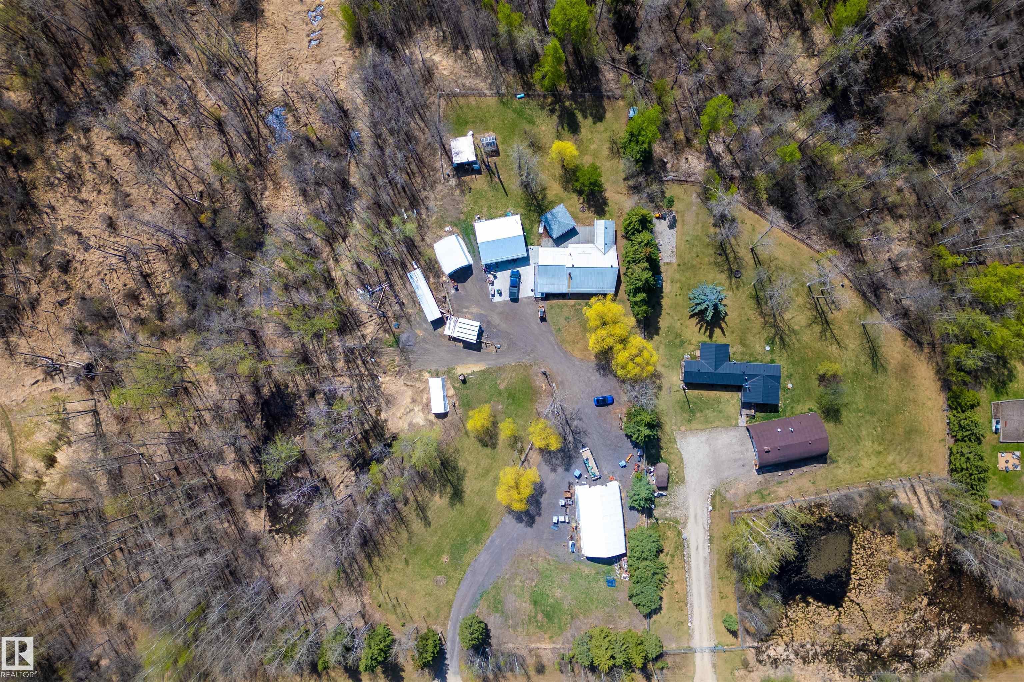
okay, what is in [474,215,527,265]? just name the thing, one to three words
building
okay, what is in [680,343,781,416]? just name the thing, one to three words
house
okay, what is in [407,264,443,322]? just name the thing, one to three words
trailer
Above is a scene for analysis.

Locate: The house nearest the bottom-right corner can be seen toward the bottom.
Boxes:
[983,399,1024,442]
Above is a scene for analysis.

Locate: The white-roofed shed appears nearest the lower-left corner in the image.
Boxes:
[428,379,447,412]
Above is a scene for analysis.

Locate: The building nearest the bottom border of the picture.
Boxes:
[573,485,626,559]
